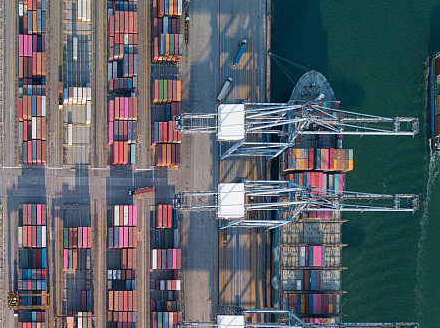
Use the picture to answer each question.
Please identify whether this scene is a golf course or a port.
port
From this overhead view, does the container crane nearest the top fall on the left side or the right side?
right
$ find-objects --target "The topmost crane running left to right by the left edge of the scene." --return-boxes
[5,289,52,310]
